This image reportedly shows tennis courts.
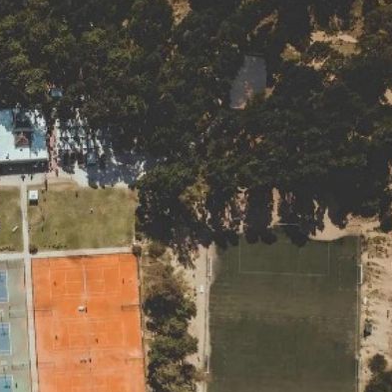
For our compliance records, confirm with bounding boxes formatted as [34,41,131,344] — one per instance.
[34,305,143,364]
[31,253,139,310]
[0,260,26,312]
[0,311,30,366]
[38,359,145,392]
